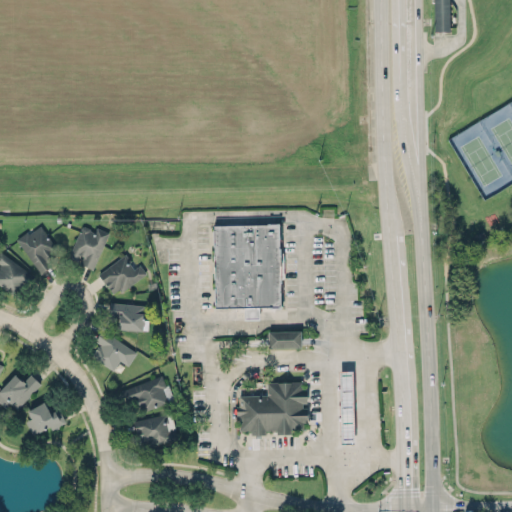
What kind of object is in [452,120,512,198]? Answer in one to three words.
tennis court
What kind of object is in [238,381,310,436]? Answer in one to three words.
building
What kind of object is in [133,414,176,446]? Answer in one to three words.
house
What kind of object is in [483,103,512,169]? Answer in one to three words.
tennis court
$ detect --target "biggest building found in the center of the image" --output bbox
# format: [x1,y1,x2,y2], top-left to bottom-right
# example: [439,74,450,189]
[214,222,284,308]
